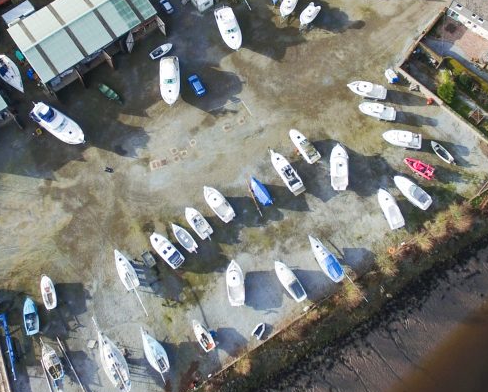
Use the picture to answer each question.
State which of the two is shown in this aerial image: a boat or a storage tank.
boat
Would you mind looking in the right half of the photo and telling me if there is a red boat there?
Yes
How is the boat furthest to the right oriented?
diagonally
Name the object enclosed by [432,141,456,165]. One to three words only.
boat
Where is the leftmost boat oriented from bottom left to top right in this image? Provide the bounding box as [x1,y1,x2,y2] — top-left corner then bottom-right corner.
[149,44,173,61]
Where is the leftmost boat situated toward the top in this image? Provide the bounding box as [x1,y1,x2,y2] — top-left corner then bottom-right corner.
[0,53,27,91]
